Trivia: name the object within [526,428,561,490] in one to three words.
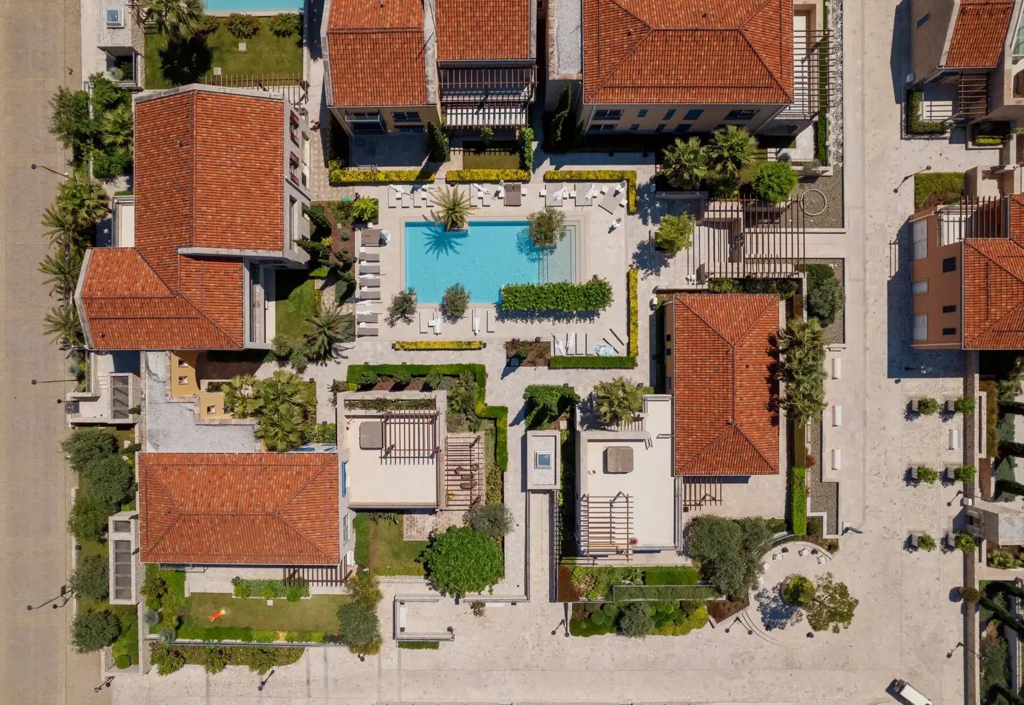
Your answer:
building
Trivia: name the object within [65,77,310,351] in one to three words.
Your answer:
house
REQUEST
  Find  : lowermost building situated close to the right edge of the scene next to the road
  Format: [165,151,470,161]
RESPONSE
[952,501,1024,545]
